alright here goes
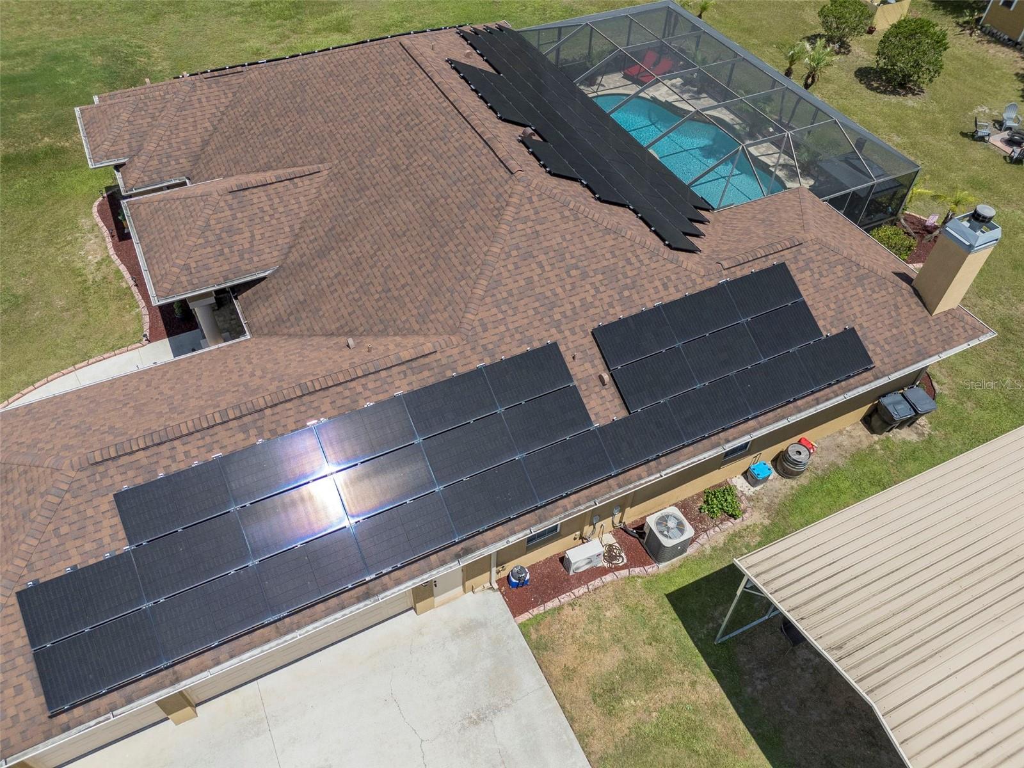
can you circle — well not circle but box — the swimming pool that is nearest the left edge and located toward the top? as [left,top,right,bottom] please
[693,157,780,213]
